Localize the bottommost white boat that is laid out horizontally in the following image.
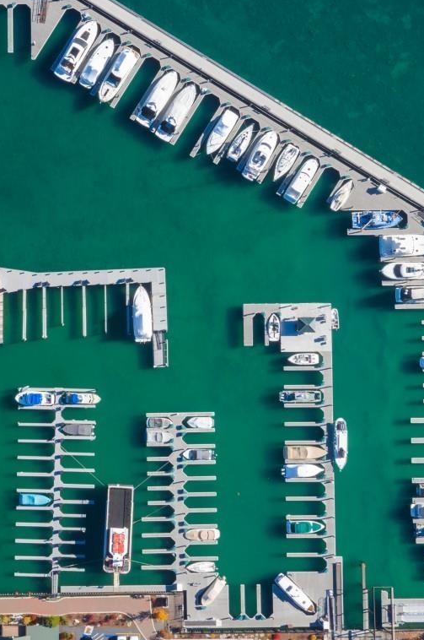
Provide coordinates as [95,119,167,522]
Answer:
[181,561,218,573]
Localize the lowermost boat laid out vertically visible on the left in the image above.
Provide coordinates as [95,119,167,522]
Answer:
[104,485,134,575]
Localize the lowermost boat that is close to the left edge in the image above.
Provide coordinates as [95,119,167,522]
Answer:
[19,491,52,506]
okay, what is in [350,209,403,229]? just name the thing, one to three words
boat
